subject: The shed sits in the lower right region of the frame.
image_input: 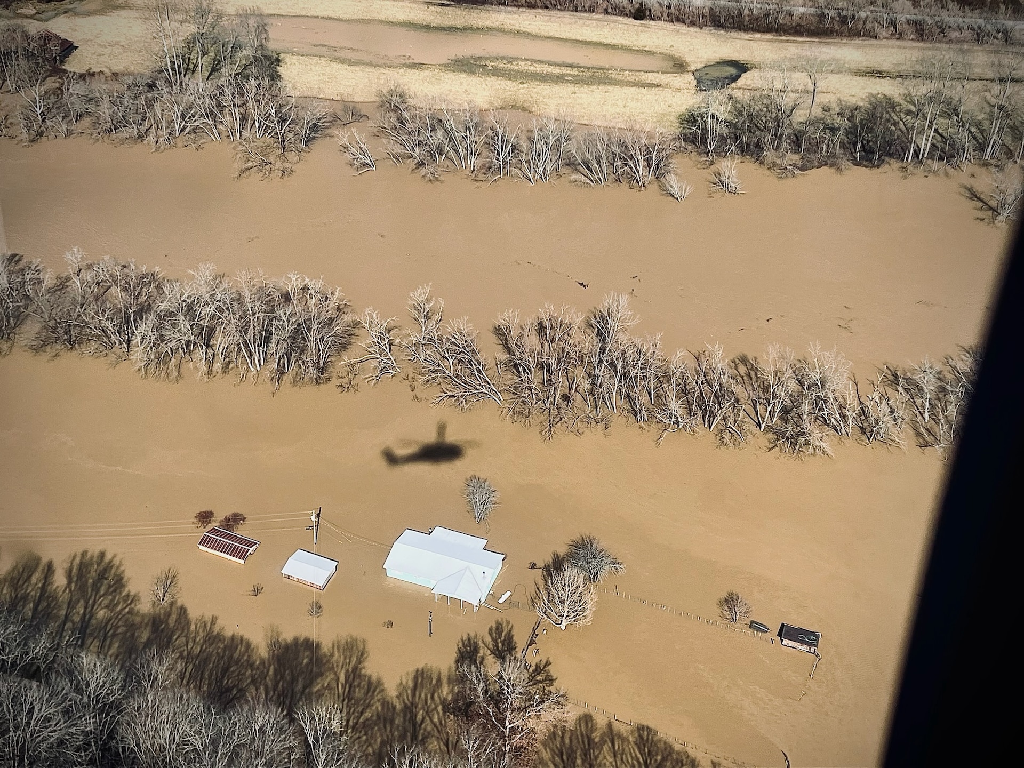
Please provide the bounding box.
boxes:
[782,622,822,654]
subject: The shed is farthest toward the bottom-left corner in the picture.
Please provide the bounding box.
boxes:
[196,527,262,564]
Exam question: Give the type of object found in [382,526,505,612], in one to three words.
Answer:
house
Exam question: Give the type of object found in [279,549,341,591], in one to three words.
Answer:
shed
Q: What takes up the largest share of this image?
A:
water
